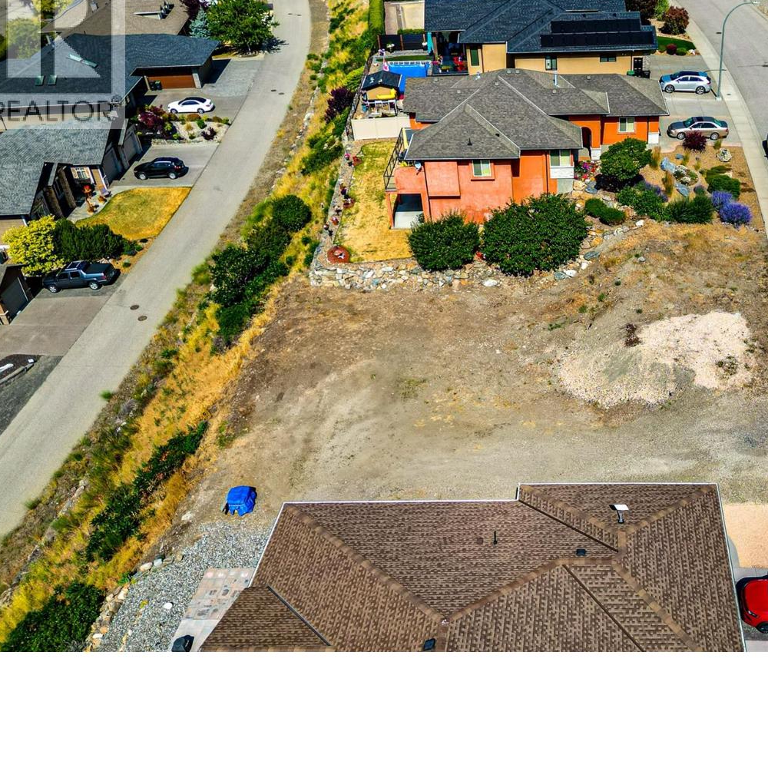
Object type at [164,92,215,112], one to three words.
car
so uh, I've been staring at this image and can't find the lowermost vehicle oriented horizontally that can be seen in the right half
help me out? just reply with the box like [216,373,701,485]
[666,112,727,136]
